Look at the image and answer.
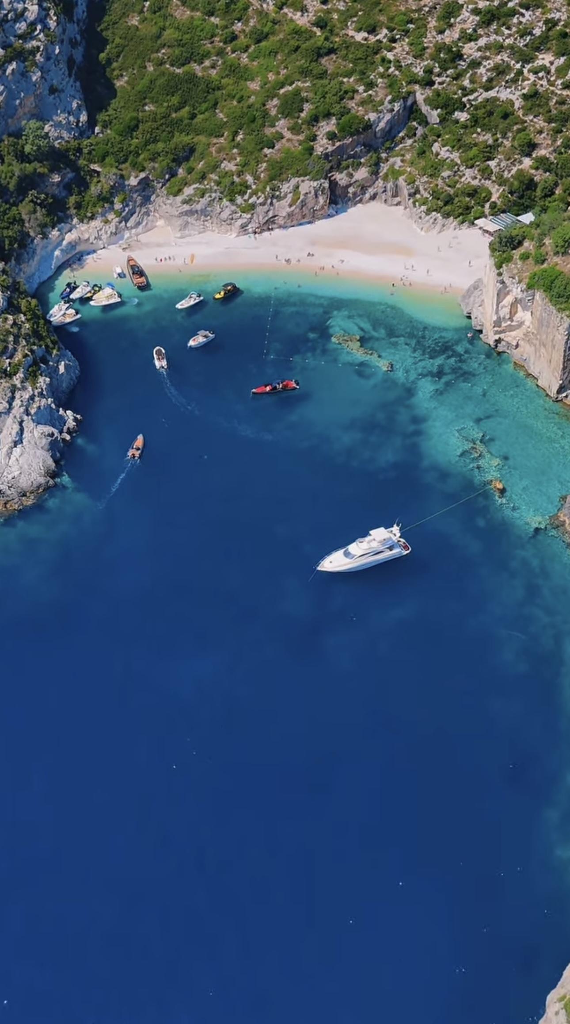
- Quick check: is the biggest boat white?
Yes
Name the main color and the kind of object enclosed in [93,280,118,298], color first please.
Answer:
white boat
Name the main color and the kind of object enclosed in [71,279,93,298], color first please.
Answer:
white boat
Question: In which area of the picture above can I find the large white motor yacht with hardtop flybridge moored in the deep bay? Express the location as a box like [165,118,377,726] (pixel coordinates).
[292,530,414,600]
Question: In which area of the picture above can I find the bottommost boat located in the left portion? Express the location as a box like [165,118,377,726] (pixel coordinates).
[126,431,144,460]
